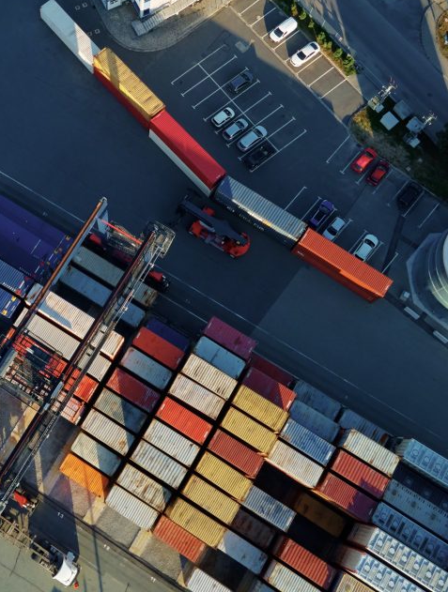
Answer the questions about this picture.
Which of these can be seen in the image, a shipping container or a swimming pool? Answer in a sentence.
There is a shipping container in the scene.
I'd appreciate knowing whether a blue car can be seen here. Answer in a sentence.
Yes, there's a blue car down there.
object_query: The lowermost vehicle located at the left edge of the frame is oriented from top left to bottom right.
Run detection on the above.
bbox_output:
[0,514,88,591]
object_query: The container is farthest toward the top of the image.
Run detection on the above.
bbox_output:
[36,0,99,72]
